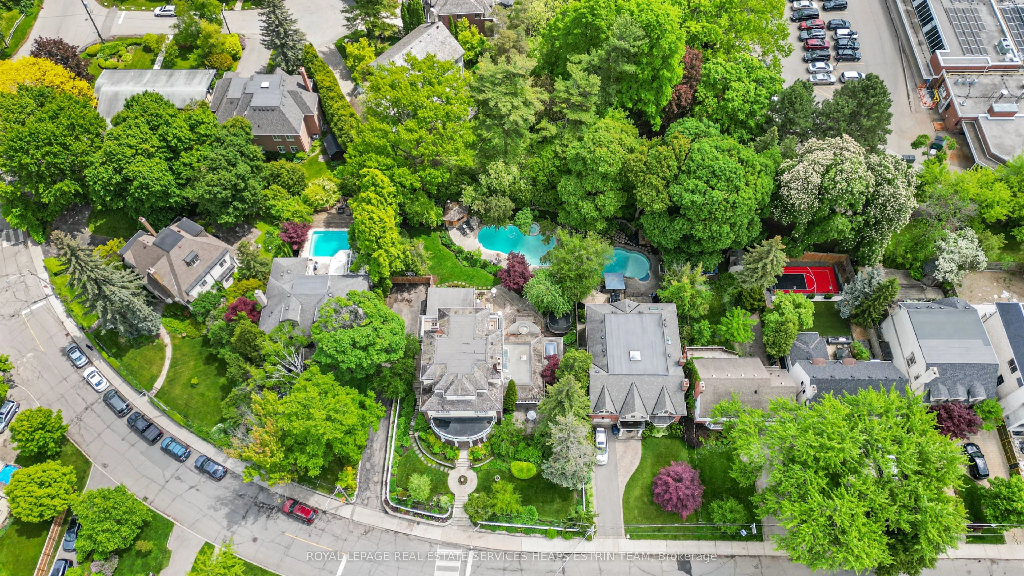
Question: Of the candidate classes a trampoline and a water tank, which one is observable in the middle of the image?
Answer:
trampoline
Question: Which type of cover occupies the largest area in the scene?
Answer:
trees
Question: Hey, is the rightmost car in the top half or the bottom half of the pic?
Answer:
bottom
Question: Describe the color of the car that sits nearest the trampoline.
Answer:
white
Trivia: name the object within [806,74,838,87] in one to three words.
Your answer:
vehicle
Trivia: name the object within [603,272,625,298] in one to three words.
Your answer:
gazebo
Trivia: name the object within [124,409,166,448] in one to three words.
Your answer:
truck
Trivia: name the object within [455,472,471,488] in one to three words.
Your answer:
fountain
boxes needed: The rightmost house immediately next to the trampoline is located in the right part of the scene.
[585,299,692,439]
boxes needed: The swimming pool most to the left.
[306,227,365,260]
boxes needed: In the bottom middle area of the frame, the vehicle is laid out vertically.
[592,426,612,468]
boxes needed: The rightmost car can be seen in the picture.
[961,441,992,481]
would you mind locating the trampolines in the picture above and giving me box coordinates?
[548,303,574,332]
